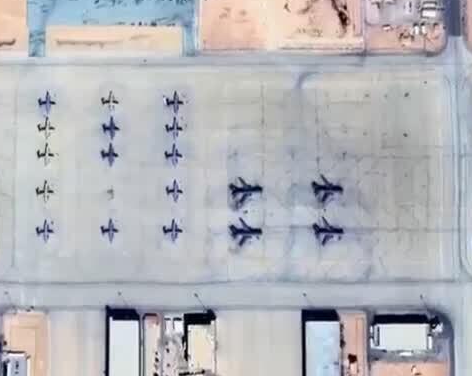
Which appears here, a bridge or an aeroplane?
aeroplane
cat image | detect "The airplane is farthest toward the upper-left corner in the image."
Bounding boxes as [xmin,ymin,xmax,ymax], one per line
[39,92,56,115]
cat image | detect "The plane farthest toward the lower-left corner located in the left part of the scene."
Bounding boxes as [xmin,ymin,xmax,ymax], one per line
[38,221,54,244]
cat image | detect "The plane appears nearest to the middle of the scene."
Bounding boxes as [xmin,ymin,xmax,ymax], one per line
[232,179,262,206]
